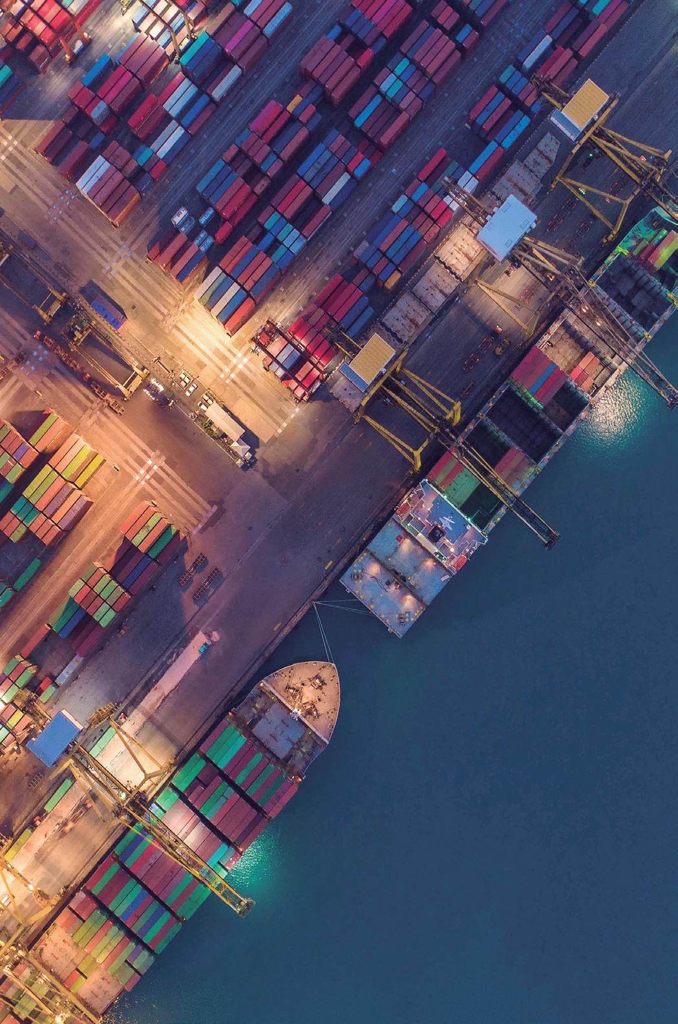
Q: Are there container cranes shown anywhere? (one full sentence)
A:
Yes, there's a container crane down there.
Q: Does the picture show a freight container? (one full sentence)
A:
Yes, a freight container appears in the view.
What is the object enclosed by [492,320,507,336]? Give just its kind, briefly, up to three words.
vehicle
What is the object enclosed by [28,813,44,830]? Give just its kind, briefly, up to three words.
vehicle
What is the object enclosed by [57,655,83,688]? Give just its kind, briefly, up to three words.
shipping container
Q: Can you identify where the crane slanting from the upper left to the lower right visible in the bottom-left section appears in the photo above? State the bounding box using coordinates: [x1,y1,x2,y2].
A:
[8,693,250,929]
